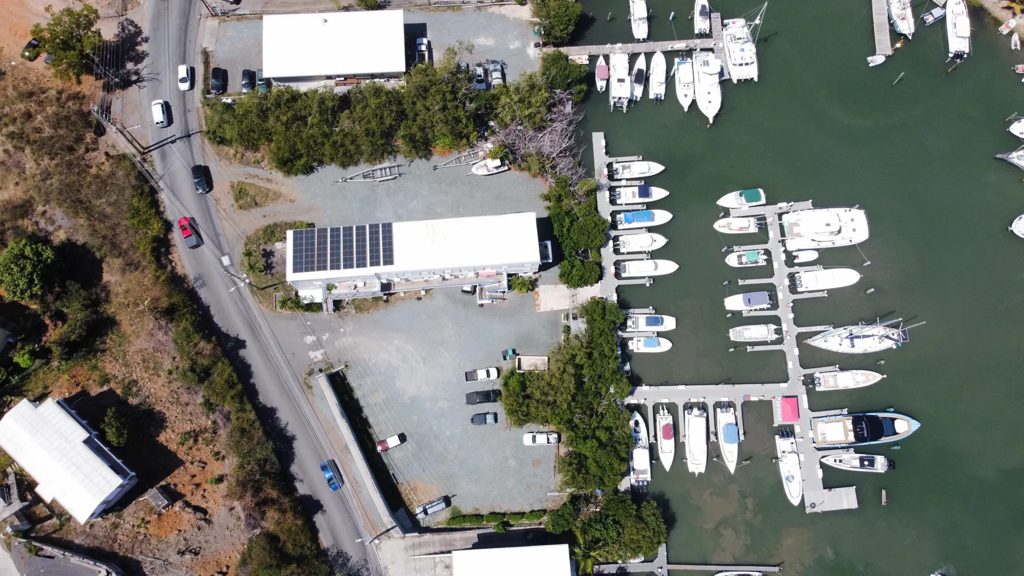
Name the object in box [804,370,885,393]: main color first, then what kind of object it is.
white boat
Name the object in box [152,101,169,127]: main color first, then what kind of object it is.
white vehicle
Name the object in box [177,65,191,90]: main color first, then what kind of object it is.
white car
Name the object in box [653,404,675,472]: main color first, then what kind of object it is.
white boat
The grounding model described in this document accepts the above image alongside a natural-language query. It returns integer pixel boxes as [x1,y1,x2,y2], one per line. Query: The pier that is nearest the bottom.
[593,547,779,576]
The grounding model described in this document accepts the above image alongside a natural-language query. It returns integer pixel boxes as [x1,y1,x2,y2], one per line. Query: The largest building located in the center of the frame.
[287,212,540,312]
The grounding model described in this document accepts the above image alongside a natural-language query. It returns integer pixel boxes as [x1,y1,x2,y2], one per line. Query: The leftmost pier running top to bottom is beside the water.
[592,132,657,484]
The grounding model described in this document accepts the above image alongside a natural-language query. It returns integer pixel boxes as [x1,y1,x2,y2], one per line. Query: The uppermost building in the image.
[263,9,406,89]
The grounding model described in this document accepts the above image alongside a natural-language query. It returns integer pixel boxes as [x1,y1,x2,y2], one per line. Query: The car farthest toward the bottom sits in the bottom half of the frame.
[416,496,450,518]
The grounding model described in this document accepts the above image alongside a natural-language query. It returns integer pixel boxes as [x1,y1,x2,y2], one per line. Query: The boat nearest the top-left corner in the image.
[472,161,519,177]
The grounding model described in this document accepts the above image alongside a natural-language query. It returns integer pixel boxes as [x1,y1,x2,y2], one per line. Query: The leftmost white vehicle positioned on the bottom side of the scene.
[375,432,406,454]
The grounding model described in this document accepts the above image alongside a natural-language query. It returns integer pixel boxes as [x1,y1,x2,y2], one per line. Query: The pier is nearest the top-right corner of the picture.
[872,0,892,57]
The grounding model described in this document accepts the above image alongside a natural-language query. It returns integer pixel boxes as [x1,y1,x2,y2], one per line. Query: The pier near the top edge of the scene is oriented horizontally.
[545,13,728,81]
